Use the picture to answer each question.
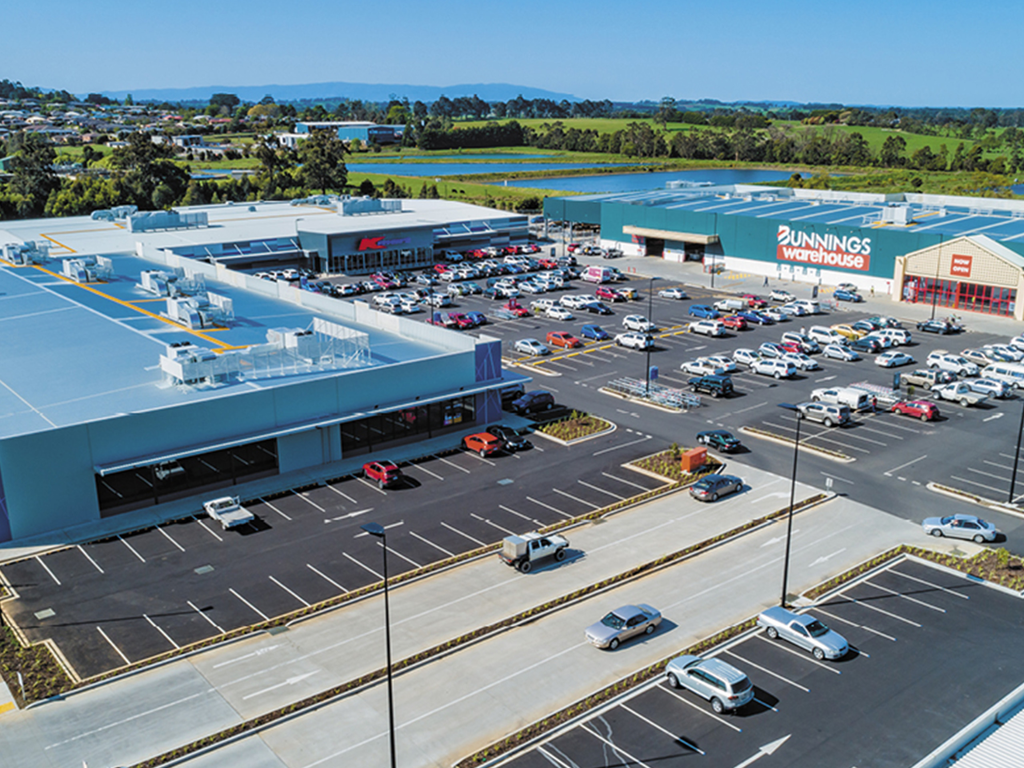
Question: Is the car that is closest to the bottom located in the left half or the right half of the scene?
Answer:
right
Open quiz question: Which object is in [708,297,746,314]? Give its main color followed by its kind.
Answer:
white vehicle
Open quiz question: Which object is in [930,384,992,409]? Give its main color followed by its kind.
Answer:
white vehicle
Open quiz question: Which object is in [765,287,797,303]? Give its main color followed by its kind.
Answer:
white car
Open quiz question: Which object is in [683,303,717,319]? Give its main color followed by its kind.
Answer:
blue car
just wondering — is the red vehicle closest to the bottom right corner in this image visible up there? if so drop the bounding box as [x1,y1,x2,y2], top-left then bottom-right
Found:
[892,401,944,423]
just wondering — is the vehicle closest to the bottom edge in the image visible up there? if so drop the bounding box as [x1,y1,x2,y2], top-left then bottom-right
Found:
[668,657,765,718]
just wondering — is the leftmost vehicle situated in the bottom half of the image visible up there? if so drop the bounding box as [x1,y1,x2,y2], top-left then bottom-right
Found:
[207,496,256,535]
